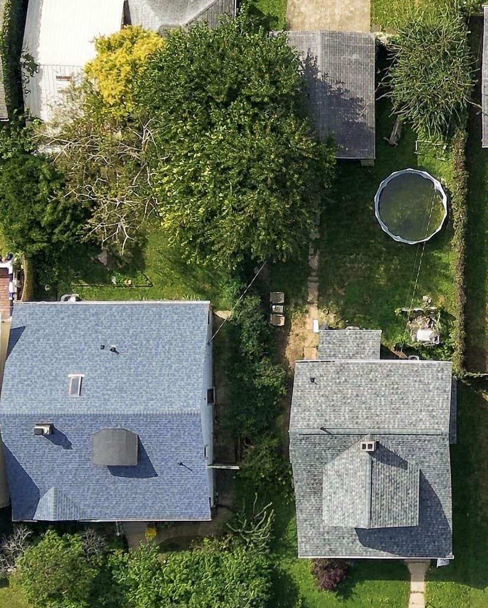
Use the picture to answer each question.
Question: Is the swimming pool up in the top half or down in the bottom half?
top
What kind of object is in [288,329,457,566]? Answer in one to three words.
house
